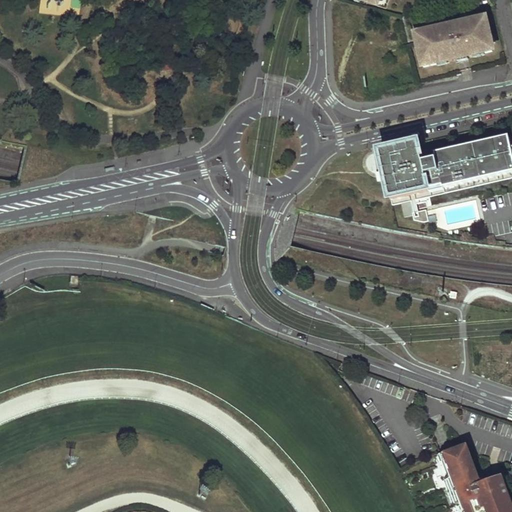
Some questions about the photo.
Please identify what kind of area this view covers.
sports ground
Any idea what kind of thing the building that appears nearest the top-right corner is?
residential house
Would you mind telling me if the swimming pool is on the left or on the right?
right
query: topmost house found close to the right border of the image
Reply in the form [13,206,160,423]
[411,11,494,70]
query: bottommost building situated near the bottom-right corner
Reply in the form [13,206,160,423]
[433,442,512,512]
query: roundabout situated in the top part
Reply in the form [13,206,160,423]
[220,98,319,197]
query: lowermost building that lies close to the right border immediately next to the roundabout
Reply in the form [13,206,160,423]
[362,133,512,224]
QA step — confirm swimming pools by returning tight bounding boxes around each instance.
[431,196,484,232]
